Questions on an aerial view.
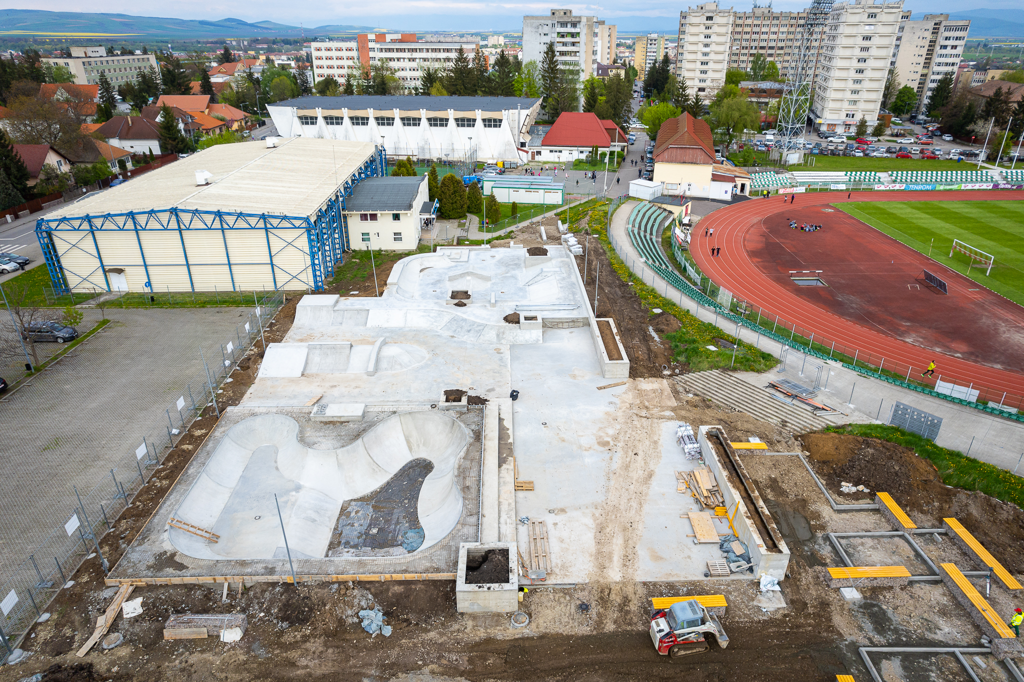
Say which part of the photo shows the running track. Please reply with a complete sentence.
You can find the running track in the right area of the picture.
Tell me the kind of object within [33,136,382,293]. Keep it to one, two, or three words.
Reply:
building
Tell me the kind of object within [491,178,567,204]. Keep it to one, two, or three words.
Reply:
building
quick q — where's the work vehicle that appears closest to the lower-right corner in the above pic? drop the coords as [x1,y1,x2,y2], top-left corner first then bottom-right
[656,608,737,665]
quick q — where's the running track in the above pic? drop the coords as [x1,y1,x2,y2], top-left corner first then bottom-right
[686,190,1024,416]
